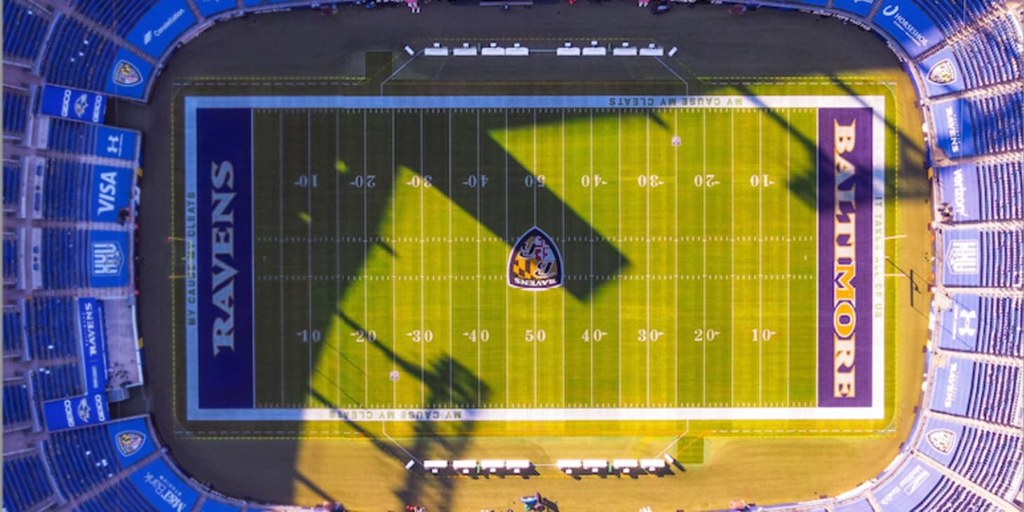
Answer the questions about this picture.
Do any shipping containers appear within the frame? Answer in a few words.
No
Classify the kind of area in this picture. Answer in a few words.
sports ground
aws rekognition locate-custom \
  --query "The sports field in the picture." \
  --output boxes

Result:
[173,38,898,478]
